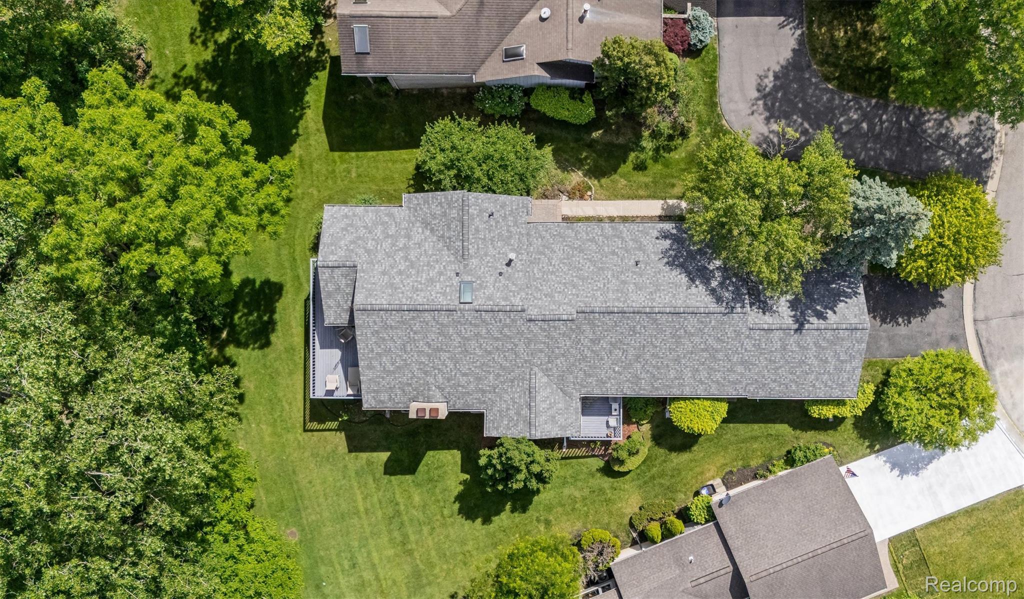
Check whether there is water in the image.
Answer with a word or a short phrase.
No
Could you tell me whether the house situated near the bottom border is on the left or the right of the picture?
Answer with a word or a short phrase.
right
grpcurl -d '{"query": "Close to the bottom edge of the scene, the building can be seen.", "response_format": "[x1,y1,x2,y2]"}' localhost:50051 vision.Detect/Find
[580,453,886,599]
